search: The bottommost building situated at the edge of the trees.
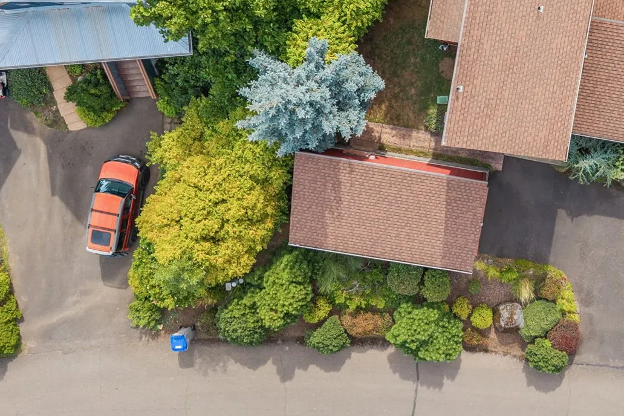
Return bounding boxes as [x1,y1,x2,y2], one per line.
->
[287,142,490,277]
